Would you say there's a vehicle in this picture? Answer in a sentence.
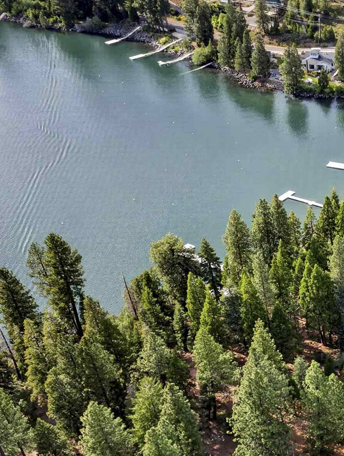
No, there's no vehicle here.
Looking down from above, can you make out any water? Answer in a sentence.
Yes, water shows up in the scene.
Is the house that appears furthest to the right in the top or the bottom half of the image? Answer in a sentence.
Seen from above, the house that appears furthest to the right lies in the top half of the view.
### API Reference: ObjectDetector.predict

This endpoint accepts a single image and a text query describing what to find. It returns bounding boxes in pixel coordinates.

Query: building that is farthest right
[298,47,337,76]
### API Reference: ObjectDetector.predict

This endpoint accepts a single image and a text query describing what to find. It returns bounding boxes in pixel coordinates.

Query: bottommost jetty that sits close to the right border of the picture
[277,189,337,210]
